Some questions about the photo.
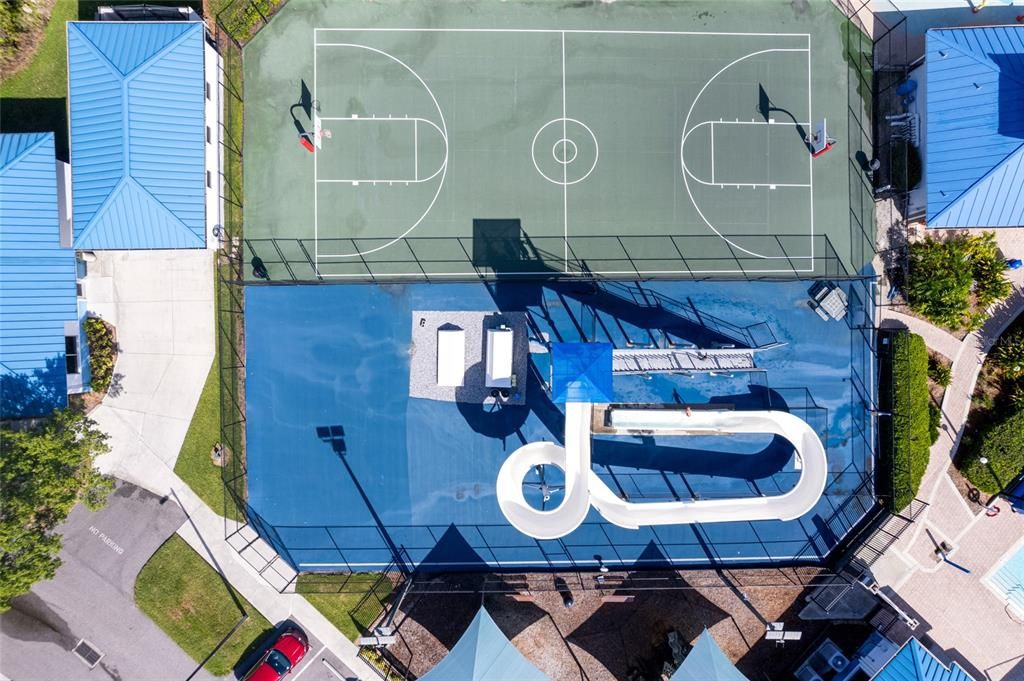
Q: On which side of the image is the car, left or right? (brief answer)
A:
left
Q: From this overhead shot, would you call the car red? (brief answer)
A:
Yes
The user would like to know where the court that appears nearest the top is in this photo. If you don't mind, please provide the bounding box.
[243,0,877,284]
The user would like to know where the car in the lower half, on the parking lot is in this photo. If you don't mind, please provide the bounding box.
[240,629,311,681]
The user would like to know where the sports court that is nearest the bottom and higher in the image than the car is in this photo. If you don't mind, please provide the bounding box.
[243,263,879,574]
